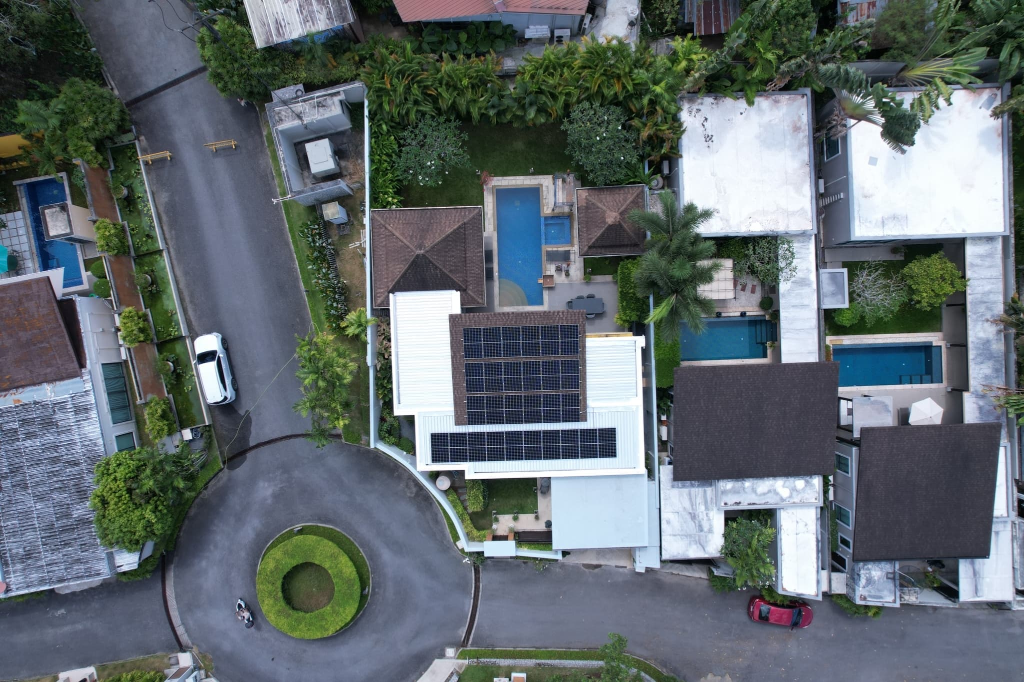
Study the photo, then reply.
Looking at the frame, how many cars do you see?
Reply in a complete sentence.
My tally gives 2 cars in this view.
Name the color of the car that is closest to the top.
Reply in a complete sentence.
The car that is closest to the top looks white in the image.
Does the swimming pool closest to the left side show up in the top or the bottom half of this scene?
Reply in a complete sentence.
The top half of the photo is where the swimming pool closest to the left side is.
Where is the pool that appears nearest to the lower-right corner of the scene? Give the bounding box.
[829,338,947,390]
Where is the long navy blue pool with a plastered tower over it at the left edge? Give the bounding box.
[19,171,87,293]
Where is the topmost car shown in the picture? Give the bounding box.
[196,335,239,406]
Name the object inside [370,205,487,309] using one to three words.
building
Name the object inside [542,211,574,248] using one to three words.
swimming pool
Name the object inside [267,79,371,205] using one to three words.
building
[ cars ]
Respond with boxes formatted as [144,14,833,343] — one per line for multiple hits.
[746,595,812,632]
[196,335,239,406]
